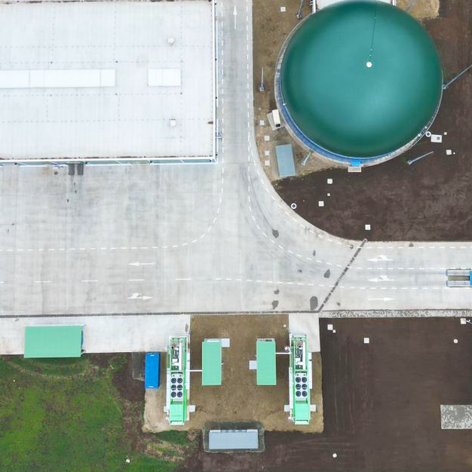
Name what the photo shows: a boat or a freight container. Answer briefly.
freight container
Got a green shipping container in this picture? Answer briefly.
Yes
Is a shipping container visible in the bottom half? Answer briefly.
Yes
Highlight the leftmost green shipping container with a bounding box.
[201,337,231,386]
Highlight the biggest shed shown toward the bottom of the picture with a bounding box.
[24,324,89,358]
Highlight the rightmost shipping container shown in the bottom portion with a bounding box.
[250,337,277,386]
